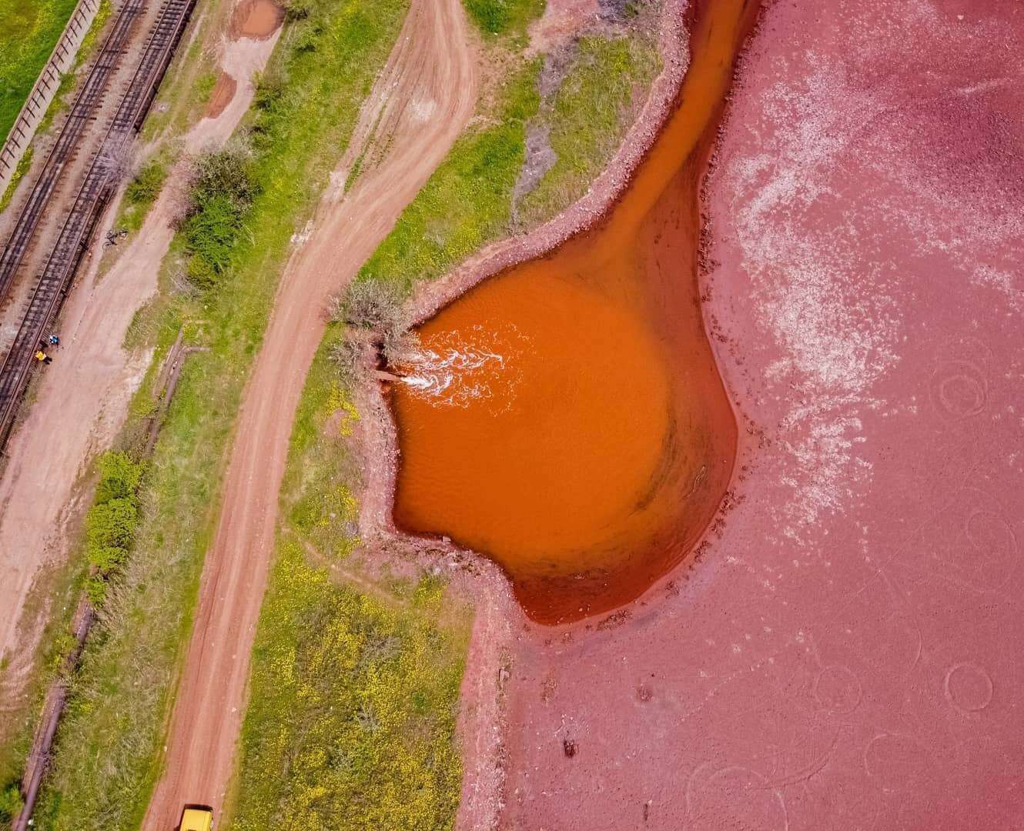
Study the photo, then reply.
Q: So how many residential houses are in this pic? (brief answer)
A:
0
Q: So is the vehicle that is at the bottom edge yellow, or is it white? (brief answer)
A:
yellow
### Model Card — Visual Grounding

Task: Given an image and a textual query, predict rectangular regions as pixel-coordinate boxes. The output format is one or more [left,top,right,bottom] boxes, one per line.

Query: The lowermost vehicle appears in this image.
[180,808,217,831]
